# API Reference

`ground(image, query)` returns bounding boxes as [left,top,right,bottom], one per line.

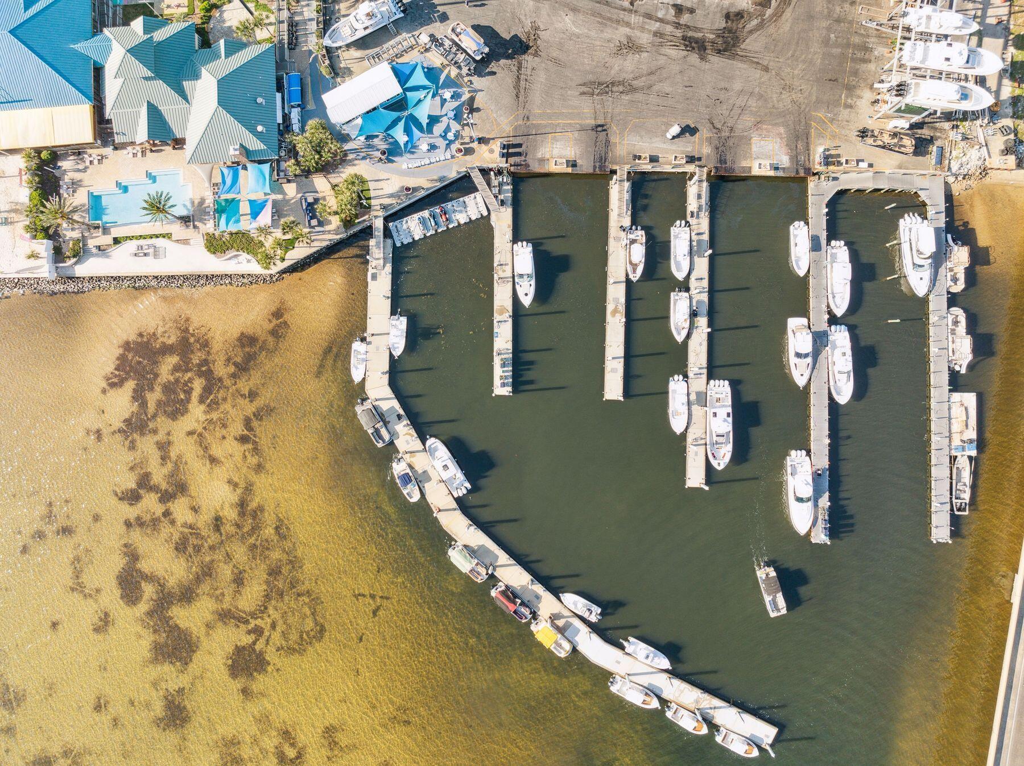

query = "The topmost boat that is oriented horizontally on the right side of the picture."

[894,8,985,41]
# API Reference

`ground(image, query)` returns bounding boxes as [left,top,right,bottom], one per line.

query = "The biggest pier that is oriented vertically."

[803,168,954,546]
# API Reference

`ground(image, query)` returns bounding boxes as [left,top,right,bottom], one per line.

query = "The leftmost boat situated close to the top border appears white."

[321,0,406,50]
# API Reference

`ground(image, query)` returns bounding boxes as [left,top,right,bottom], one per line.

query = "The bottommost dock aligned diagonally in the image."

[365,239,777,749]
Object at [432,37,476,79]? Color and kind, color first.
gray boat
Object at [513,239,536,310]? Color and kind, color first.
white boat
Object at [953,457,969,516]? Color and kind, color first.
white boat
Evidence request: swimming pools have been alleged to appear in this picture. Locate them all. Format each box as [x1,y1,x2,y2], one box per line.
[84,165,195,228]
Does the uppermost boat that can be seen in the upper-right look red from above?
No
